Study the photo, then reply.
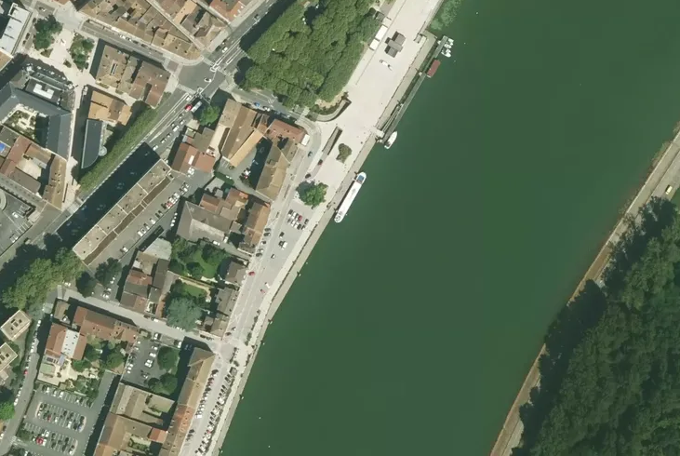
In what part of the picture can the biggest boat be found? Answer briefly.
center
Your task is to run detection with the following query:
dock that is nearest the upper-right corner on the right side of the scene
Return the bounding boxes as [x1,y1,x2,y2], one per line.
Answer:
[381,36,448,137]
